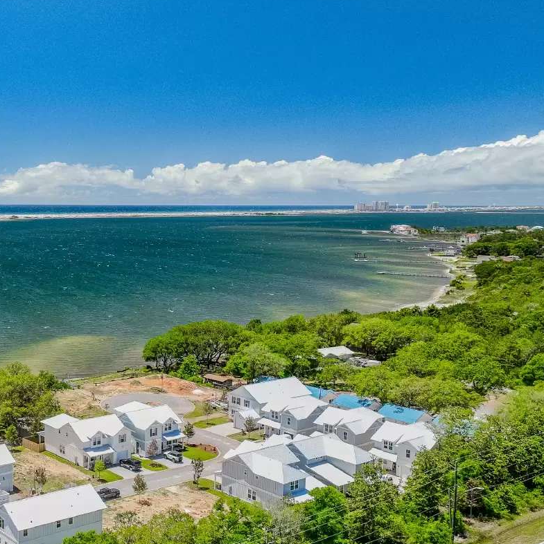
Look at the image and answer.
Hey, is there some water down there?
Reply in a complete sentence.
Yes, the picture does contain water.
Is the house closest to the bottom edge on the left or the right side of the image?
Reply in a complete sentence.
The house closest to the bottom edge is on the left side of the image.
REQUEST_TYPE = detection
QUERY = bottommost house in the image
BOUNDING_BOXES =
[0,482,107,544]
